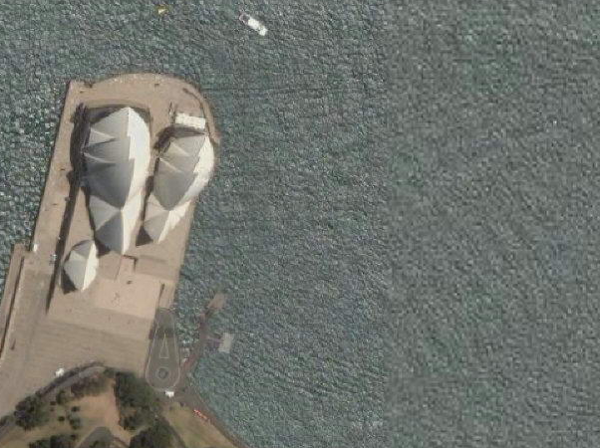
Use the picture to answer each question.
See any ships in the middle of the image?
No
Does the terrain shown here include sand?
No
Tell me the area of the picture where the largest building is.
left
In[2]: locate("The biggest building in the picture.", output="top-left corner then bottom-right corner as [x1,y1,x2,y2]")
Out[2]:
[46,101,216,341]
